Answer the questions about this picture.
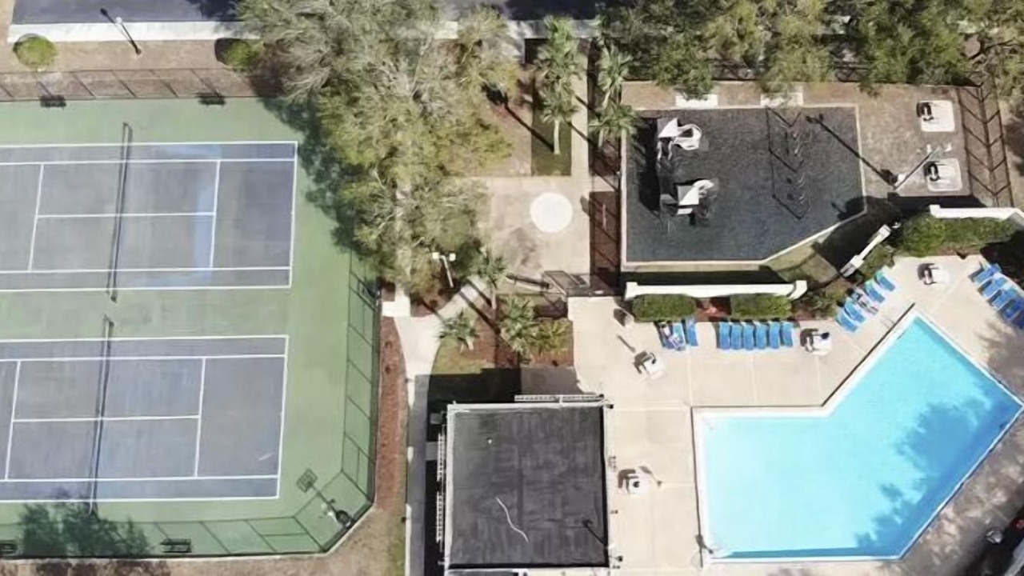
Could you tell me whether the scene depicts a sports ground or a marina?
sports ground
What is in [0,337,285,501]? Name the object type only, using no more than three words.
tennis court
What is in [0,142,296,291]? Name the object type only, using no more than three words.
tennis court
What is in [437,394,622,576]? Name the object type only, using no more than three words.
building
